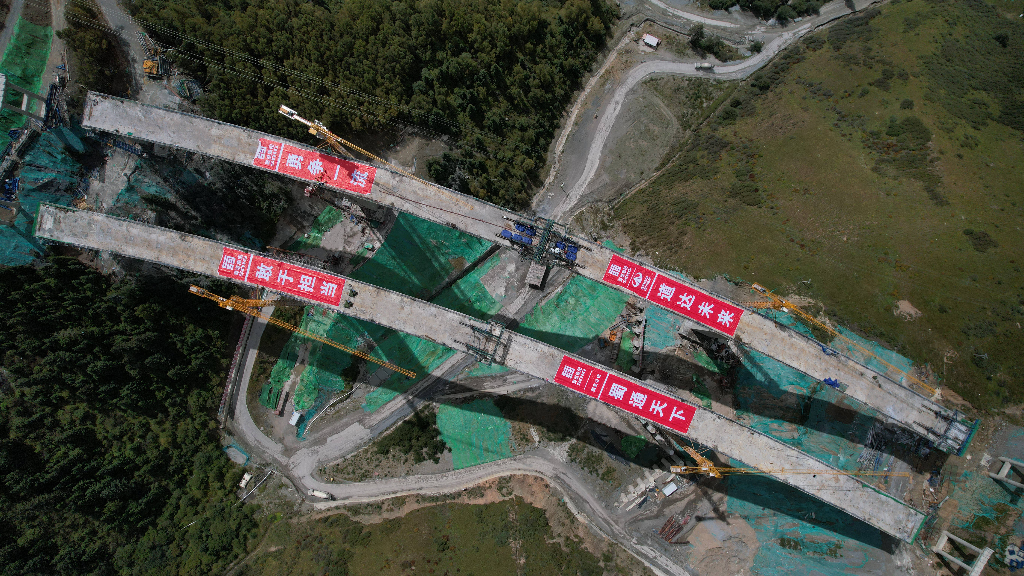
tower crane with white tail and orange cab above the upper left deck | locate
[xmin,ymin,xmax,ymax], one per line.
[276,104,475,212]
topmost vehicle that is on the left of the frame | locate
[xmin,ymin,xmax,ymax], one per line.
[273,391,286,415]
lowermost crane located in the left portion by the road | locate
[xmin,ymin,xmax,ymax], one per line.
[189,280,418,378]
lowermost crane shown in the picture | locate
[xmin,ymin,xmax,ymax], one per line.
[650,422,910,479]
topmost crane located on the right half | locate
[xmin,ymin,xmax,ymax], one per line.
[731,283,936,396]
